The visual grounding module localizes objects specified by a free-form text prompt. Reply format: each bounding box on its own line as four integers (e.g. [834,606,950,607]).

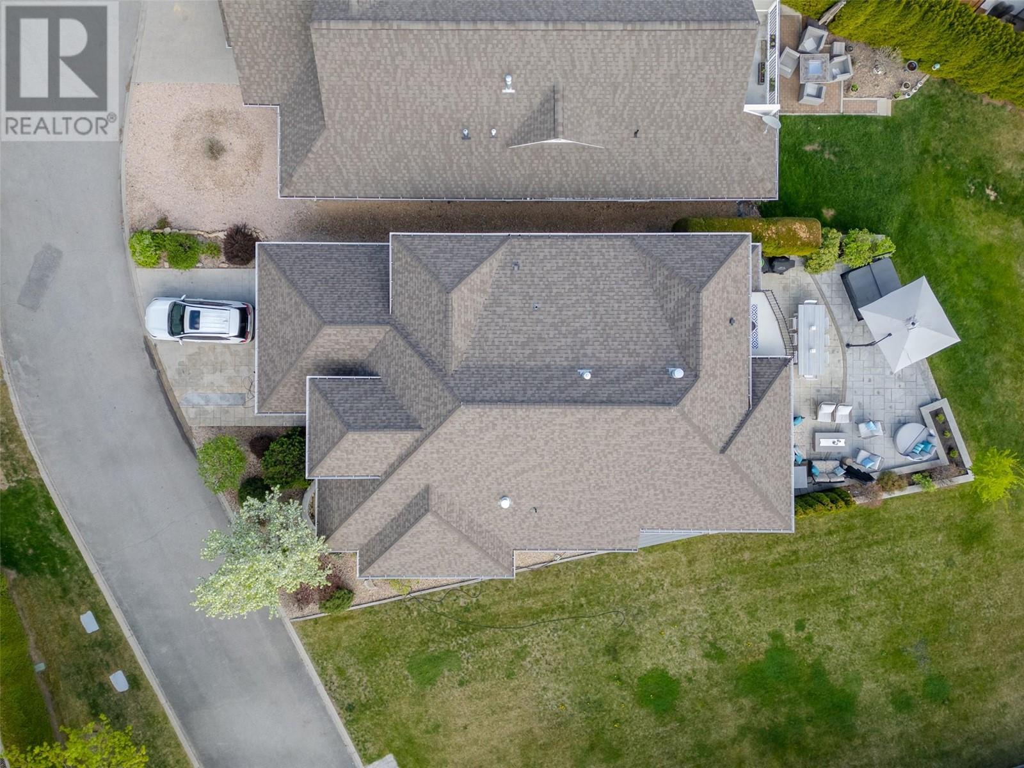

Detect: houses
[256,234,798,578]
[218,0,789,199]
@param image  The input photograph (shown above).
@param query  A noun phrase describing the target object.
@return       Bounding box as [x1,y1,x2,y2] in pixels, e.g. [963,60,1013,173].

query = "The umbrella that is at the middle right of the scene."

[846,277,960,373]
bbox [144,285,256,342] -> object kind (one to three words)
car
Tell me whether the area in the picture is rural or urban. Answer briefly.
urban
